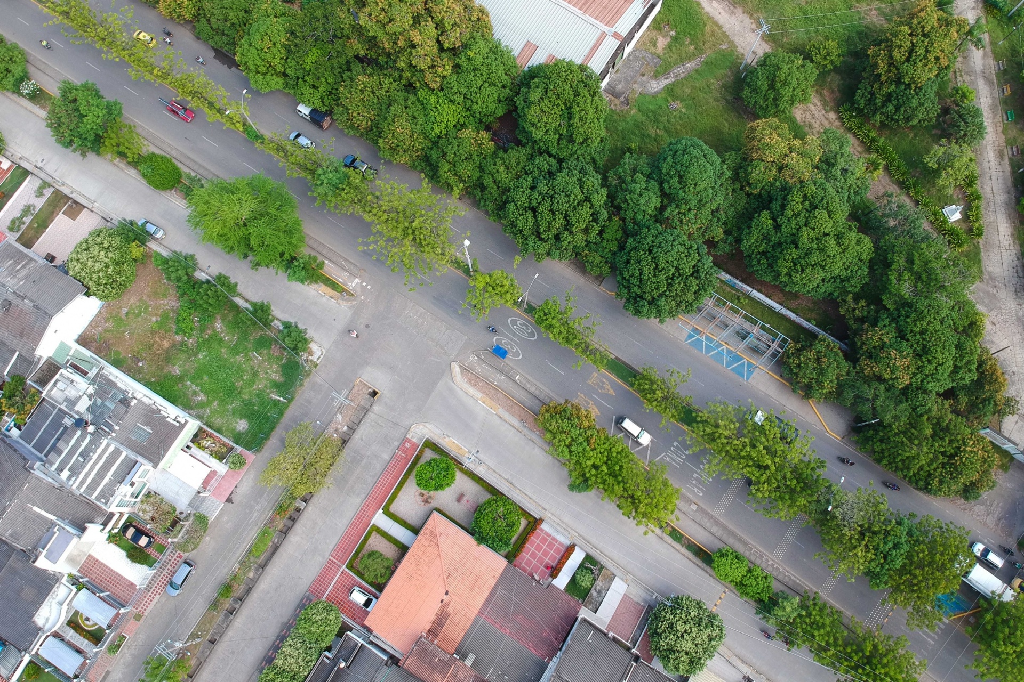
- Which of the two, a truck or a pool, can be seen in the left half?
truck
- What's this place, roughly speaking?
residential area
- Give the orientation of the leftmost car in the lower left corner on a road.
diagonally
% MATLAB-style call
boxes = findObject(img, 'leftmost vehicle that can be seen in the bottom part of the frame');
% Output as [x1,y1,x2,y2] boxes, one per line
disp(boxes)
[123,523,154,548]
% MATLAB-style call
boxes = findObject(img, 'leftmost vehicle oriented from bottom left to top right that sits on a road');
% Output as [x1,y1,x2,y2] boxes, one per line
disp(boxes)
[168,560,198,597]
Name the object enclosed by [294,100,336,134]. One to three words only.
truck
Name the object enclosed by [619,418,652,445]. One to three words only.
car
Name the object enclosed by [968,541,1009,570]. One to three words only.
car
